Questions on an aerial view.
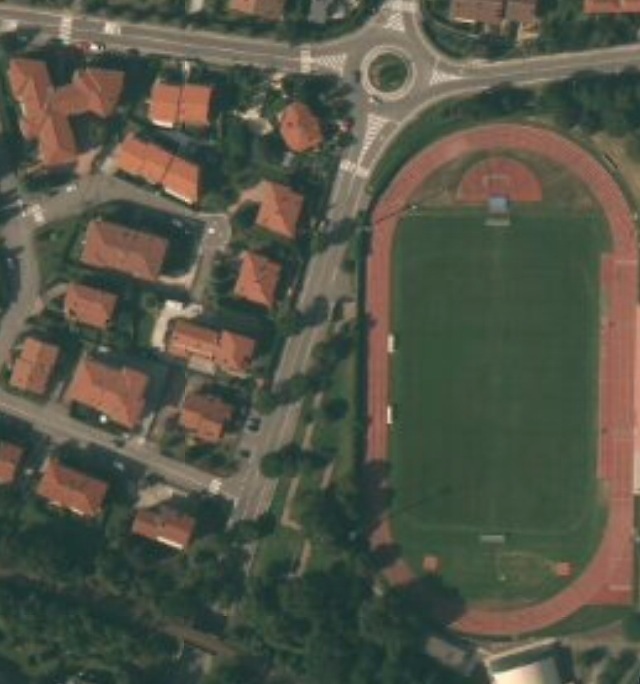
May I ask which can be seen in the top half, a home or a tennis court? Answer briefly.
home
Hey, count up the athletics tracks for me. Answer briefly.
1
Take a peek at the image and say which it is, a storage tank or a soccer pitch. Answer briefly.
soccer pitch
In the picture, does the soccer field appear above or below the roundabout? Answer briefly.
below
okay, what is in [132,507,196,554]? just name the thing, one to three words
house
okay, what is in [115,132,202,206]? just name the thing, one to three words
house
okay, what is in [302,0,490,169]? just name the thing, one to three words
roundabout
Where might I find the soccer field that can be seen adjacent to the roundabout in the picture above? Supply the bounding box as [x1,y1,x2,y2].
[387,146,615,612]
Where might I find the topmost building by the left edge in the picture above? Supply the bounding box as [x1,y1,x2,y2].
[10,59,124,166]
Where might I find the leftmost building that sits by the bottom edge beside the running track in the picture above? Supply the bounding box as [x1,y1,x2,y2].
[420,637,467,672]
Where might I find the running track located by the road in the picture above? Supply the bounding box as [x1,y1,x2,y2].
[365,124,637,634]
